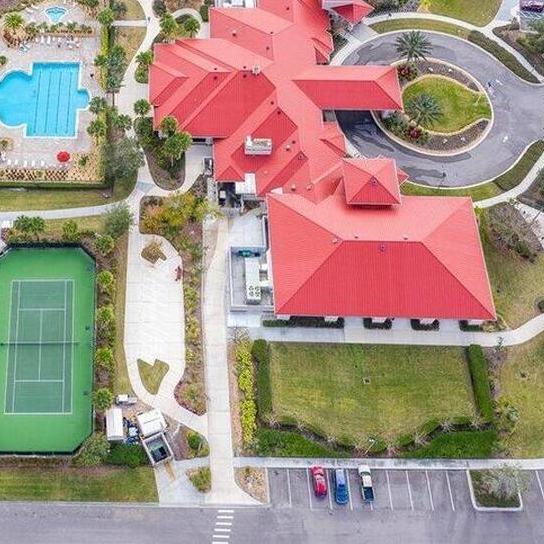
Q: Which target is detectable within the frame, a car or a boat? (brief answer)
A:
car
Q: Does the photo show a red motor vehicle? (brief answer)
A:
Yes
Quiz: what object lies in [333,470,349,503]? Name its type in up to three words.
car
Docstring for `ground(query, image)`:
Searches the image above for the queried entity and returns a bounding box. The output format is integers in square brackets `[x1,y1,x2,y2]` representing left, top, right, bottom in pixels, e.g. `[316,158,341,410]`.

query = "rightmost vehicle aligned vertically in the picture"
[356,464,377,504]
